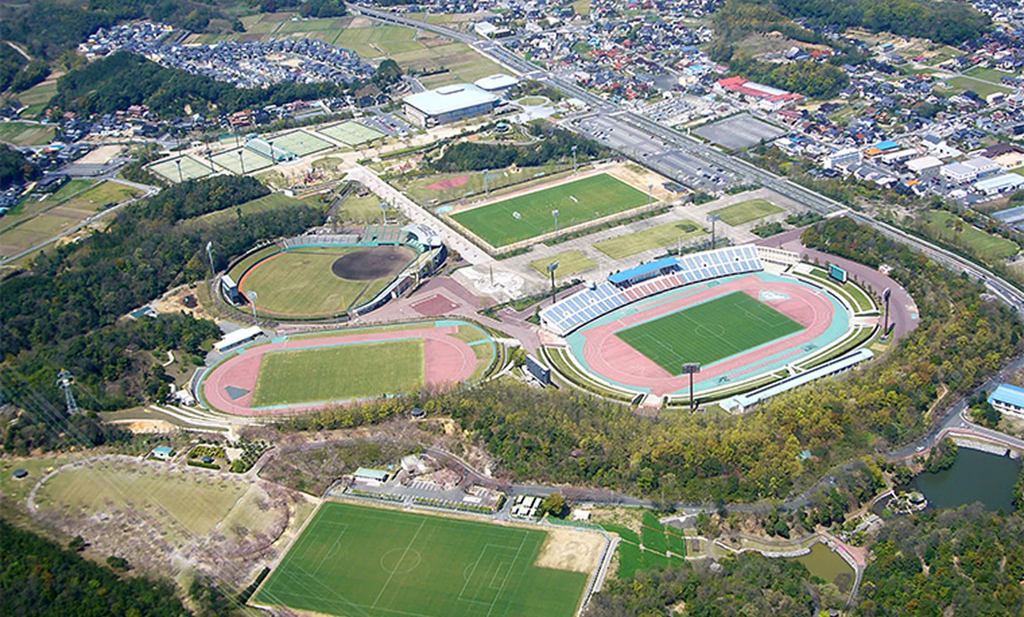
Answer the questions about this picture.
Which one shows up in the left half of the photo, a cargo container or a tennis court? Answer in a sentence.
It is a tennis court that can be seen in the left half of the photo.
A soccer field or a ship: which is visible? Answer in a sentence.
It is a soccer field that can be seen here.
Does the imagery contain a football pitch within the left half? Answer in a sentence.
Yes, a football pitch can be seen within the left half.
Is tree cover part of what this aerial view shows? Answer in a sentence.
Yes, some tree cover is visible.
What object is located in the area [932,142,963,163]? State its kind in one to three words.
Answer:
building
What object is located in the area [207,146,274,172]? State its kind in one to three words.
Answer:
tennis court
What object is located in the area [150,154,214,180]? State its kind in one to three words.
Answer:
tennis court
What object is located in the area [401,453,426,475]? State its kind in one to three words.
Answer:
house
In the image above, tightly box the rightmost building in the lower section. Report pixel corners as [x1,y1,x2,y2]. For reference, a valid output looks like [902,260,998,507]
[988,383,1024,422]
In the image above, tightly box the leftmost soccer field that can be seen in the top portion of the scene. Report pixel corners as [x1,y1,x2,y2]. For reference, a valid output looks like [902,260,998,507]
[451,171,659,247]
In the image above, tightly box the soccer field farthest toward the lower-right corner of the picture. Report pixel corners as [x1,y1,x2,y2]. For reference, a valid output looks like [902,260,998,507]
[613,289,806,374]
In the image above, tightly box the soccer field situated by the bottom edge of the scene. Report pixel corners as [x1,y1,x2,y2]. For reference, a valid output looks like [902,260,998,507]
[254,501,588,617]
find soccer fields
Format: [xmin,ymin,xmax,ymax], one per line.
[251,337,426,406]
[613,289,806,374]
[254,501,588,617]
[451,171,659,247]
